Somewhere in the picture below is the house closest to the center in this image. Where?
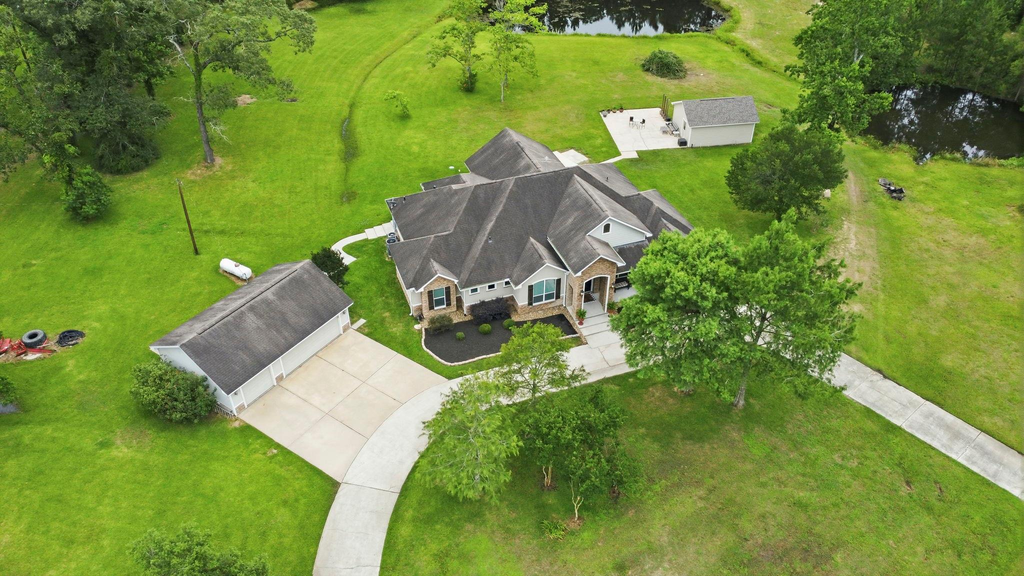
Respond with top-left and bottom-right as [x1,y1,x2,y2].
[378,127,691,344]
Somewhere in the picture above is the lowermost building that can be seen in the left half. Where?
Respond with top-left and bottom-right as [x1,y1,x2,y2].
[149,259,355,417]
